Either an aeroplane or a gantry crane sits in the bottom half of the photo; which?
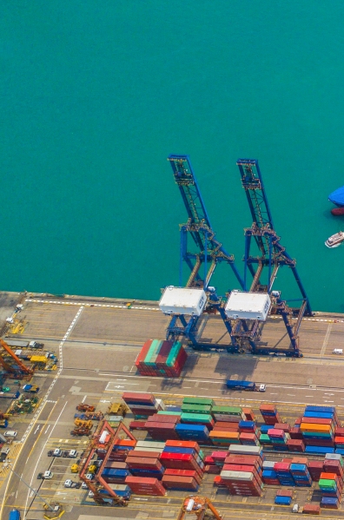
gantry crane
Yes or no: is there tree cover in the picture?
No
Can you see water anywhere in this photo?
Yes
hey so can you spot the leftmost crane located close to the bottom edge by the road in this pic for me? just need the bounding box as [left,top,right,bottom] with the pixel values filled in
[76,420,144,506]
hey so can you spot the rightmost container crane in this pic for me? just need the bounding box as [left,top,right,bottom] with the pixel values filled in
[226,162,312,361]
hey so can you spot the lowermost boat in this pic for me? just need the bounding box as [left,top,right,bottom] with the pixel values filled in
[326,231,344,245]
